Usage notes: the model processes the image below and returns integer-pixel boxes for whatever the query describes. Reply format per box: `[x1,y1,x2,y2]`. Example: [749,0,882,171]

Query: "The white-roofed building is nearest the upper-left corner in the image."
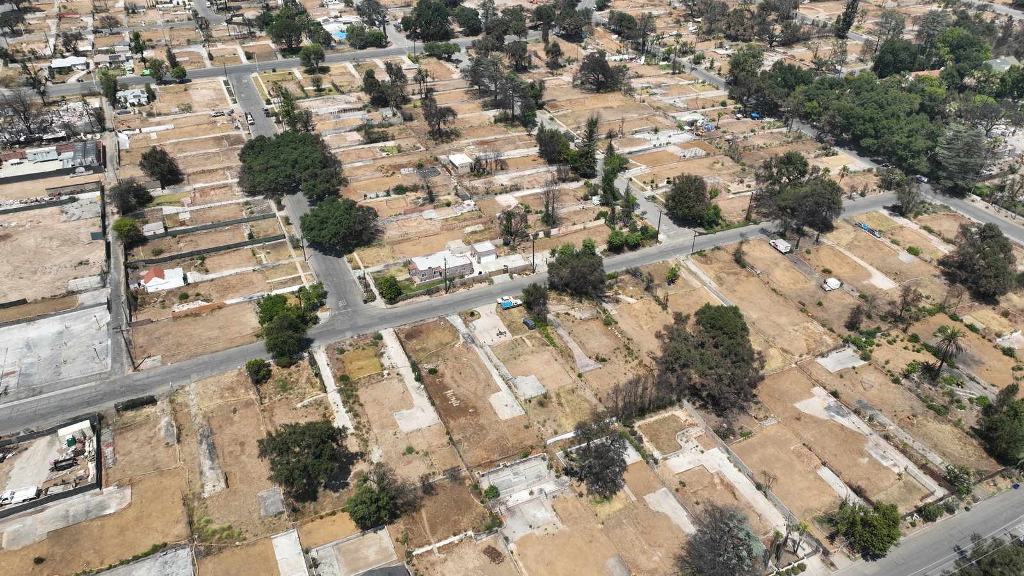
[52,58,88,75]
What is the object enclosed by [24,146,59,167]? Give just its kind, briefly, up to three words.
shed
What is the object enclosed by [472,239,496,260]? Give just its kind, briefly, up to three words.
building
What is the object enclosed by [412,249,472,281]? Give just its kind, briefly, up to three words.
house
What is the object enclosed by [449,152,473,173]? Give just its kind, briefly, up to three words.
building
